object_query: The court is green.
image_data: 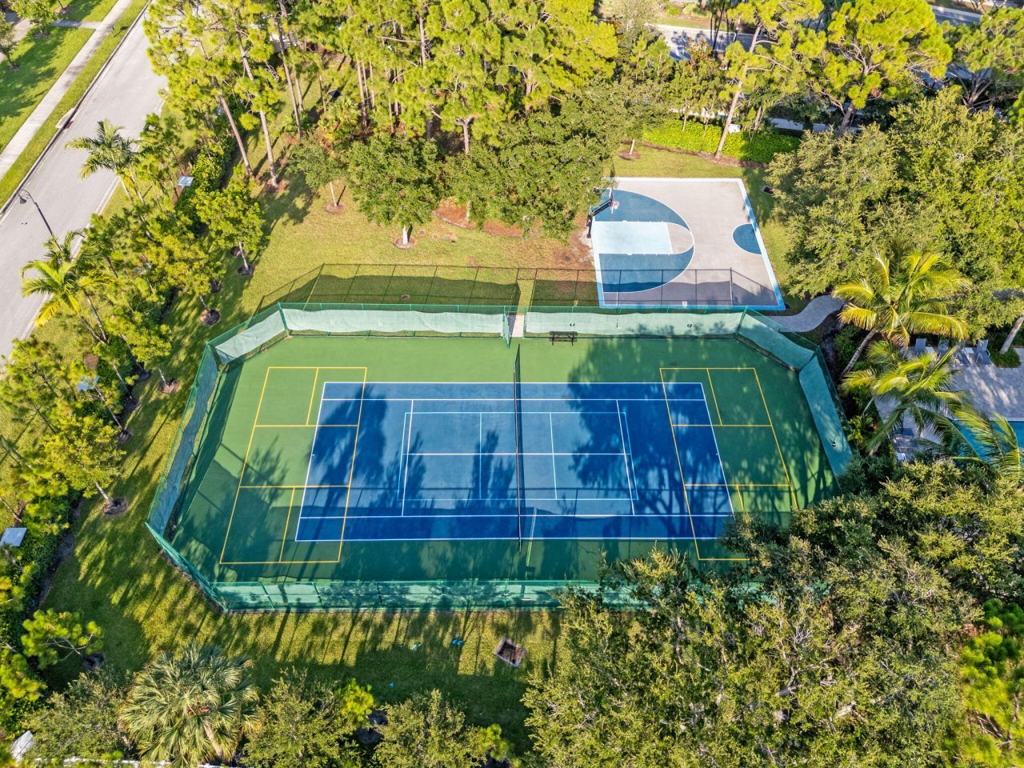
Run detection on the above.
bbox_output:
[171,339,852,611]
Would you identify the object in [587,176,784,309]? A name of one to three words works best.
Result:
basketball court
